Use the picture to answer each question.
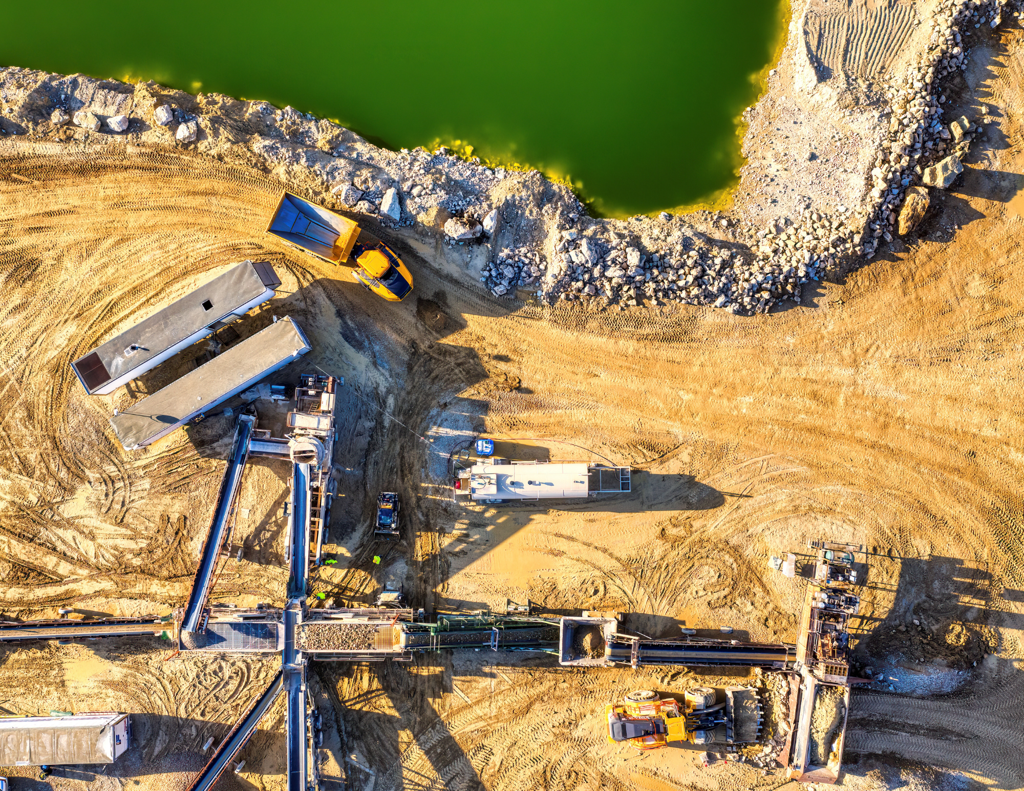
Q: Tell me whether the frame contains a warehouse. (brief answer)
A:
No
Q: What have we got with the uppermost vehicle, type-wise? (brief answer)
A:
truck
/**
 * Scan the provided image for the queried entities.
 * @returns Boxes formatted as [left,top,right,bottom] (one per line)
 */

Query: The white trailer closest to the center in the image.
[453,456,631,503]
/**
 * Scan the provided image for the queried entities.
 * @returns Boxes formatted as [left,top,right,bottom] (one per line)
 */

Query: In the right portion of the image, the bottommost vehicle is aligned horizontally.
[604,683,762,757]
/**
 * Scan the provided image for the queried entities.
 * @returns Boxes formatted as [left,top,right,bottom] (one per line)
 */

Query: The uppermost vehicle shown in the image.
[262,189,413,303]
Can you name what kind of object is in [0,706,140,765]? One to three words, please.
trailer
